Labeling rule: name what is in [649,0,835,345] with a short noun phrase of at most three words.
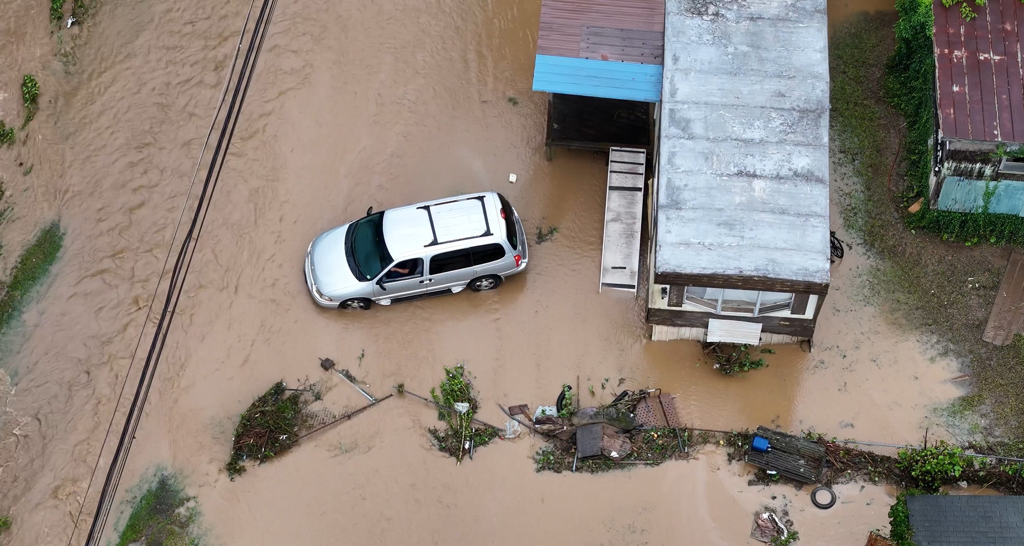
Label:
house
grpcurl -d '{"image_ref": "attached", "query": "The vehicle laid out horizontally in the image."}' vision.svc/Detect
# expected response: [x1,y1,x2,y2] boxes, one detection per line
[303,193,531,309]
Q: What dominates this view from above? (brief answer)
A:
water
